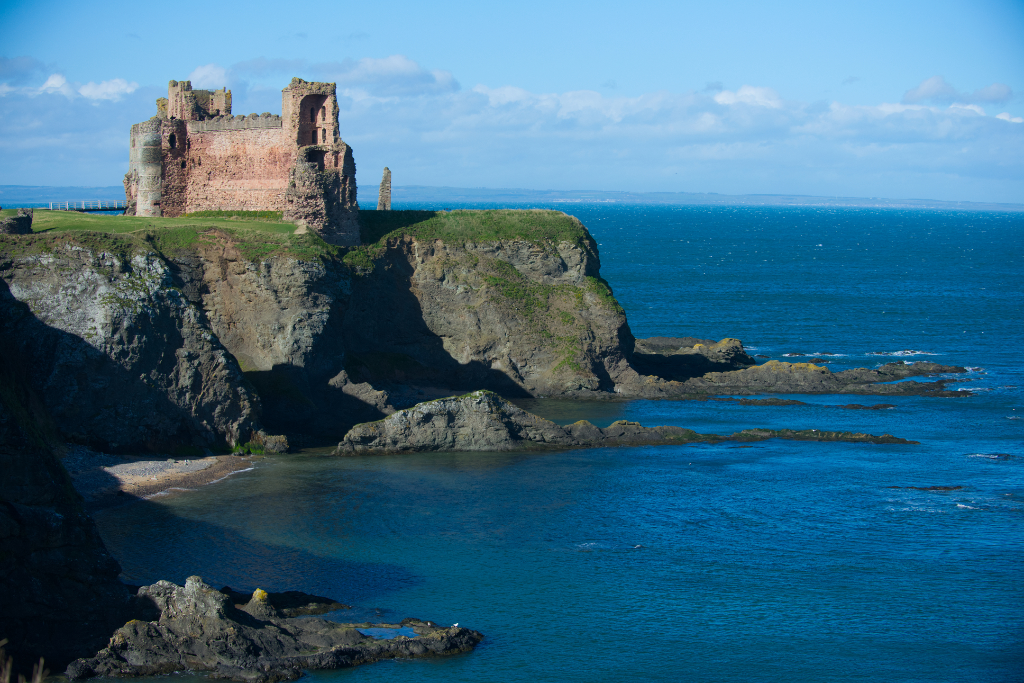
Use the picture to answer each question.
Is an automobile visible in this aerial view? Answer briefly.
No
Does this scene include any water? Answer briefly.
Yes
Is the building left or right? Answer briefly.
left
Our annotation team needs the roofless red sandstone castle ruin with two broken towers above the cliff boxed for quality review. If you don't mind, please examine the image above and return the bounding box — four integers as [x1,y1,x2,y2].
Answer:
[124,77,366,248]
